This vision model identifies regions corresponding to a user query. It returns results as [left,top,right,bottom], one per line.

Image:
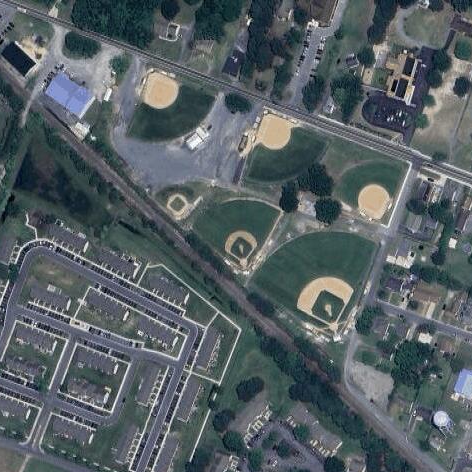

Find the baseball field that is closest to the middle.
[194,196,281,269]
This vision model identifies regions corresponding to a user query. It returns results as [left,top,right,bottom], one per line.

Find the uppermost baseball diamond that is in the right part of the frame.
[246,108,330,186]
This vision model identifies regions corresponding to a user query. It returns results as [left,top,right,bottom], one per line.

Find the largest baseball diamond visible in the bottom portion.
[245,230,383,337]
